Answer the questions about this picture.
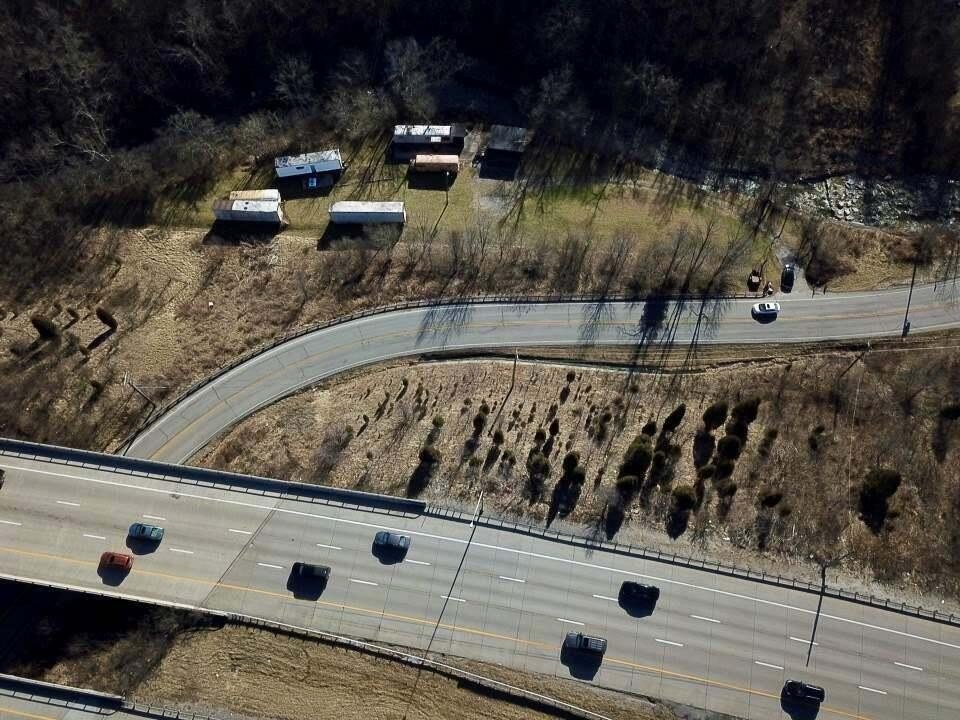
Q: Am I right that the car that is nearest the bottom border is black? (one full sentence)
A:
Yes, black is the color of the car that is nearest the bottom border.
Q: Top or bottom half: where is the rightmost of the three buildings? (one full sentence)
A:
The rightmost of the three buildings sits in the top half of the picture.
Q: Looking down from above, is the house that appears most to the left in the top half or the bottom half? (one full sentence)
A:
Seen from above, the house that appears most to the left lies in the top half of the view.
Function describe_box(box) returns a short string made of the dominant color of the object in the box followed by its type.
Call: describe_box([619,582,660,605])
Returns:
black car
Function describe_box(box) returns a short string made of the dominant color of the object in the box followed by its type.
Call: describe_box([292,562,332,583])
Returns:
black car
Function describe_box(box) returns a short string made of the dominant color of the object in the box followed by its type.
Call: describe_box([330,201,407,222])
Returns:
white trailer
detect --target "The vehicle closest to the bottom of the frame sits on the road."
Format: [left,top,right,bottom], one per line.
[782,681,826,705]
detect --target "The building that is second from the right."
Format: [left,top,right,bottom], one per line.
[393,124,467,148]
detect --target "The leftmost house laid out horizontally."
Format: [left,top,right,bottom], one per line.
[274,149,342,181]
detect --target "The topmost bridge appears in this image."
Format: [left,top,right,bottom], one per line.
[0,439,427,618]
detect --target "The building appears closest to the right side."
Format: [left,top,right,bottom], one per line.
[488,122,529,159]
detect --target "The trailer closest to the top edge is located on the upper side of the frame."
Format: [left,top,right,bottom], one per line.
[411,155,458,174]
